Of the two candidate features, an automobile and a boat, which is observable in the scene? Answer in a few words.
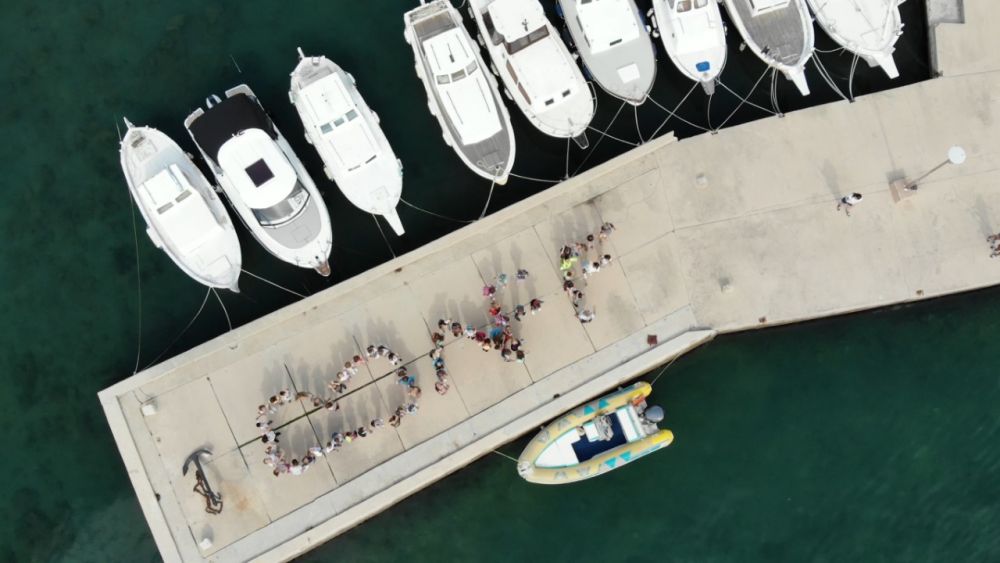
boat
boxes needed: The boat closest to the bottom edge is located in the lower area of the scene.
[519,386,670,484]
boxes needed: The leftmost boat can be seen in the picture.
[119,119,240,296]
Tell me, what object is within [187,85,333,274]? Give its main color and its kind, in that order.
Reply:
white boat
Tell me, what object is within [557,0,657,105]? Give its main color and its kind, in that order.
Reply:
white boat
